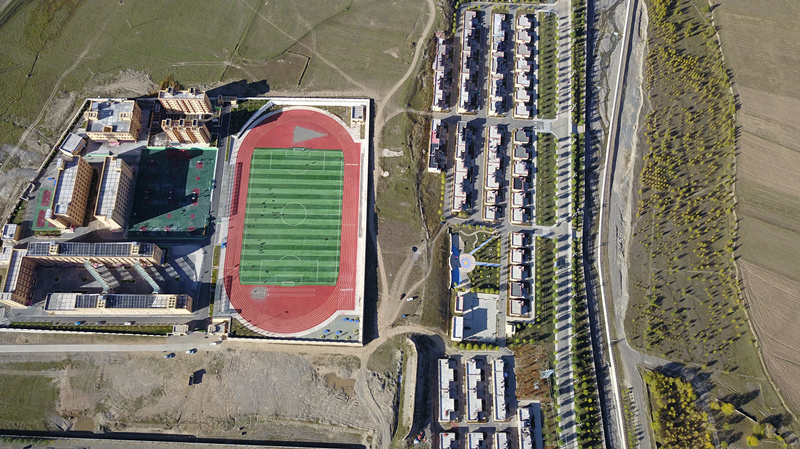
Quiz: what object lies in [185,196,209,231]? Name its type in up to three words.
basketball court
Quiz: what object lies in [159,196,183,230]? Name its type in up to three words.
basketball court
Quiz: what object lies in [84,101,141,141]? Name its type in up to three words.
building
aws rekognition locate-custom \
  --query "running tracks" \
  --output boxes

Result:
[223,109,360,333]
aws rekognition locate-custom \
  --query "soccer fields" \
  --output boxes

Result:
[238,147,343,286]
